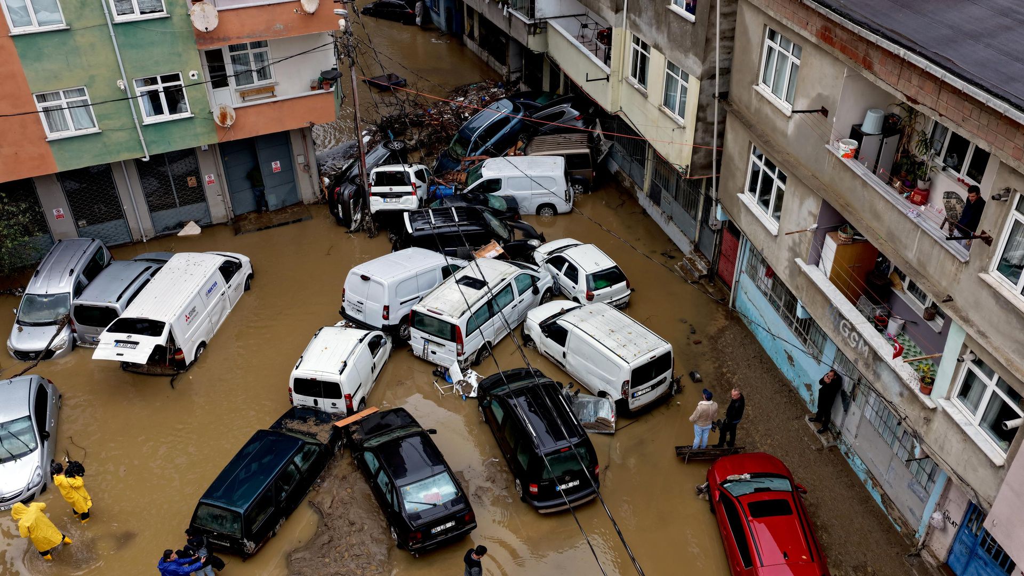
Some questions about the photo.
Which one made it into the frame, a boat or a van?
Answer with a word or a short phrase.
van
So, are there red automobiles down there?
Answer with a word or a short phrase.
Yes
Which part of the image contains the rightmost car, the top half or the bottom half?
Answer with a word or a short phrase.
bottom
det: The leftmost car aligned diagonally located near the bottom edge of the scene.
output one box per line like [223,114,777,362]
[190,404,350,557]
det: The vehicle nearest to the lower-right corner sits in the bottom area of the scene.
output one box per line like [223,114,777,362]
[708,449,827,576]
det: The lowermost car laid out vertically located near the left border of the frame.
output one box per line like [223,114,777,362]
[0,375,60,508]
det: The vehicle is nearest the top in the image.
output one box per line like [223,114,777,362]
[359,0,430,23]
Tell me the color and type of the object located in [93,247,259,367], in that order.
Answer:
white van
